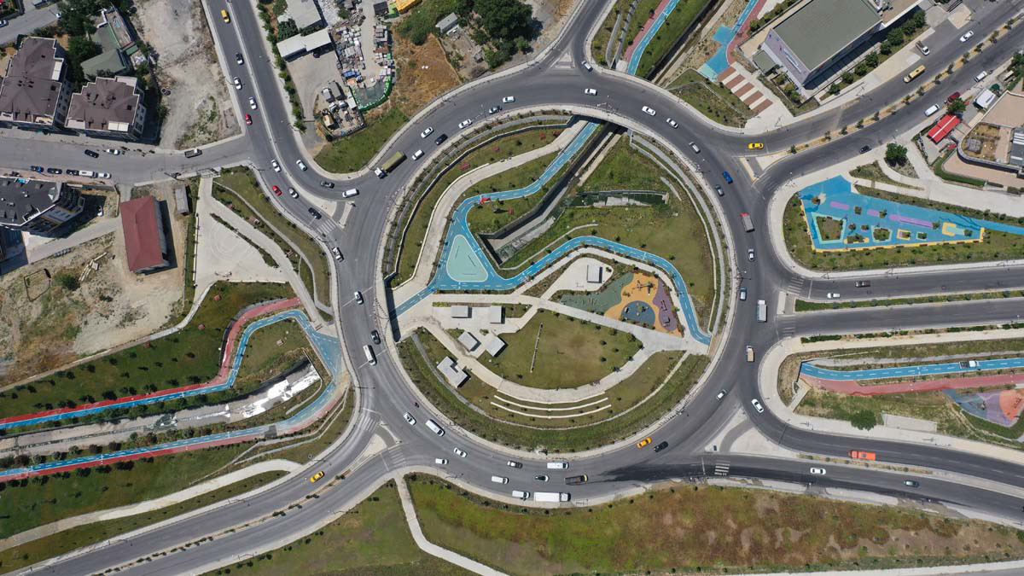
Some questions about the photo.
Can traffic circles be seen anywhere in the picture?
Yes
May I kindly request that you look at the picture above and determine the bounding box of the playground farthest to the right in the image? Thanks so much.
[942,388,1024,427]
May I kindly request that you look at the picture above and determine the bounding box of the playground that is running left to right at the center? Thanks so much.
[559,273,681,336]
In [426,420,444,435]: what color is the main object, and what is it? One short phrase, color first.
white vehicle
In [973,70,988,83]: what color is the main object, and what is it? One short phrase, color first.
white vehicle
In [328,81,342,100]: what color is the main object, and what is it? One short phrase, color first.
gray vehicle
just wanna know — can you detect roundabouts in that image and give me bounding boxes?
[309,50,812,497]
